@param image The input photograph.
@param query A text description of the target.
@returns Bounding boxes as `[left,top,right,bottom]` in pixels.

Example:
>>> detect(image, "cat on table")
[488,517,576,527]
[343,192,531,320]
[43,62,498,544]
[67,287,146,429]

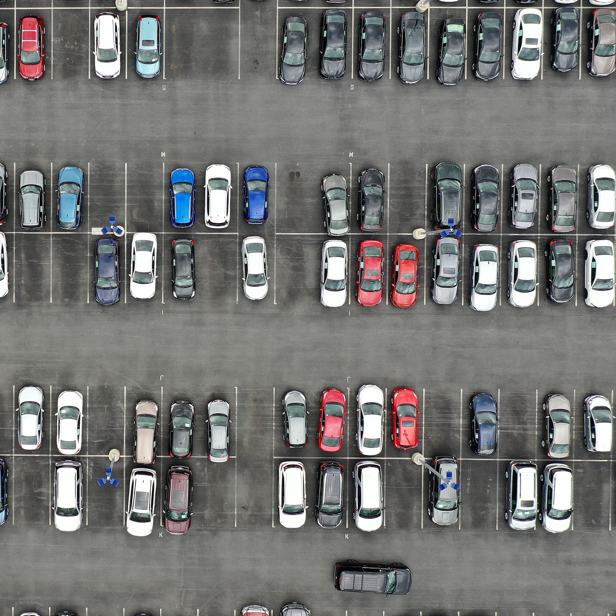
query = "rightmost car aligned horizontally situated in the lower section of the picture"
[333,561,413,600]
